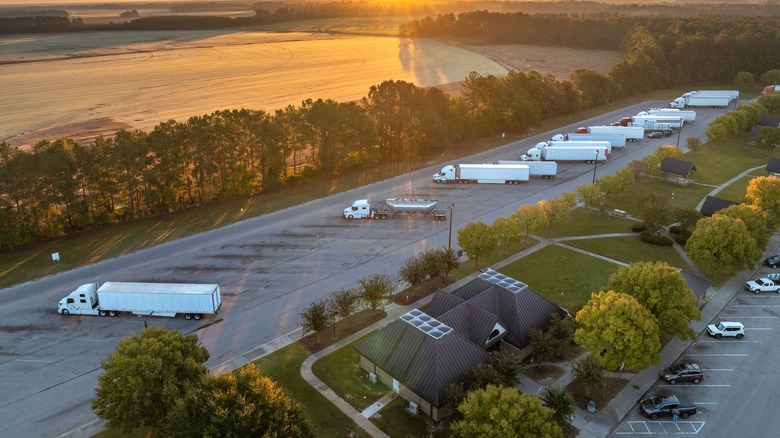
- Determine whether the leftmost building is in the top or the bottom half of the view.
bottom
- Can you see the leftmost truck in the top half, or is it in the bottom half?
bottom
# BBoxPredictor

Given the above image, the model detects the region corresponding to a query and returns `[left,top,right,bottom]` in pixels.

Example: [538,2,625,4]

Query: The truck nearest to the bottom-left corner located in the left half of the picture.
[57,282,213,319]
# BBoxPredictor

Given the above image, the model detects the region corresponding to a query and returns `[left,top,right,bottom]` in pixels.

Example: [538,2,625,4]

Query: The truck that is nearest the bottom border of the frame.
[638,395,696,420]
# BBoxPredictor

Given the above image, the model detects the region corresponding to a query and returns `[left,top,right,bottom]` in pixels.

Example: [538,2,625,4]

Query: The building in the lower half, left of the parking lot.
[351,266,564,419]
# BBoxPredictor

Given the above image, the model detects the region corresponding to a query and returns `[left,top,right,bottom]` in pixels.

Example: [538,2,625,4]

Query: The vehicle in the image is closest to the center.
[344,198,433,219]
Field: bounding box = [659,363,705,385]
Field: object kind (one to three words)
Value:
car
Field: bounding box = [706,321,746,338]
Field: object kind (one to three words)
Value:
car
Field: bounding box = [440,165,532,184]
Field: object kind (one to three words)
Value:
vehicle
